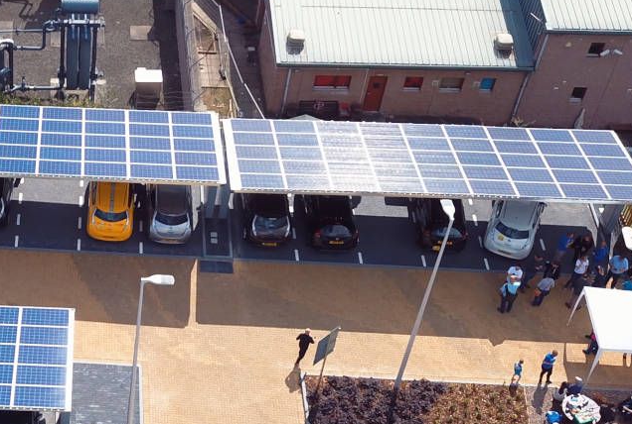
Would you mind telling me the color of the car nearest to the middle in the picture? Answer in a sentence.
The car nearest to the middle is black.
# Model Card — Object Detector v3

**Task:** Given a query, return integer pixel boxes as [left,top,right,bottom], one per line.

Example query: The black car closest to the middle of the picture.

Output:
[301,200,356,247]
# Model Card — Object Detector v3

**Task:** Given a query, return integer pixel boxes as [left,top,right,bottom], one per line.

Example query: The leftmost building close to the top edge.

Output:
[246,0,533,121]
